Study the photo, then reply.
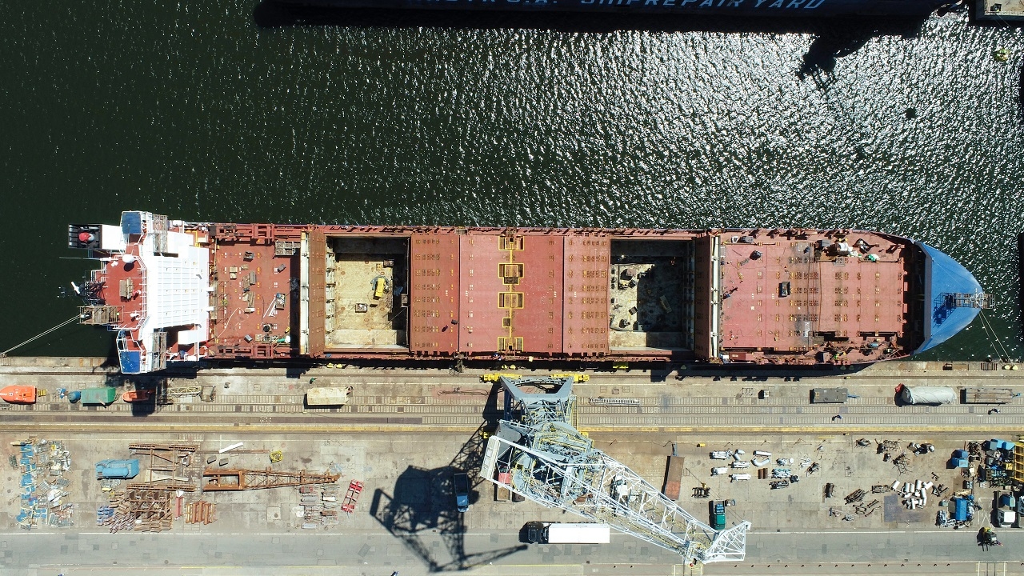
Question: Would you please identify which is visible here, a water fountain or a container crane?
container crane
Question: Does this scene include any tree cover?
No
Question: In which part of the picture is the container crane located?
bottom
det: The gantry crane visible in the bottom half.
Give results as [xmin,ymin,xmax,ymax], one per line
[473,374,753,575]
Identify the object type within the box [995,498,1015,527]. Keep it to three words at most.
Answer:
vehicle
